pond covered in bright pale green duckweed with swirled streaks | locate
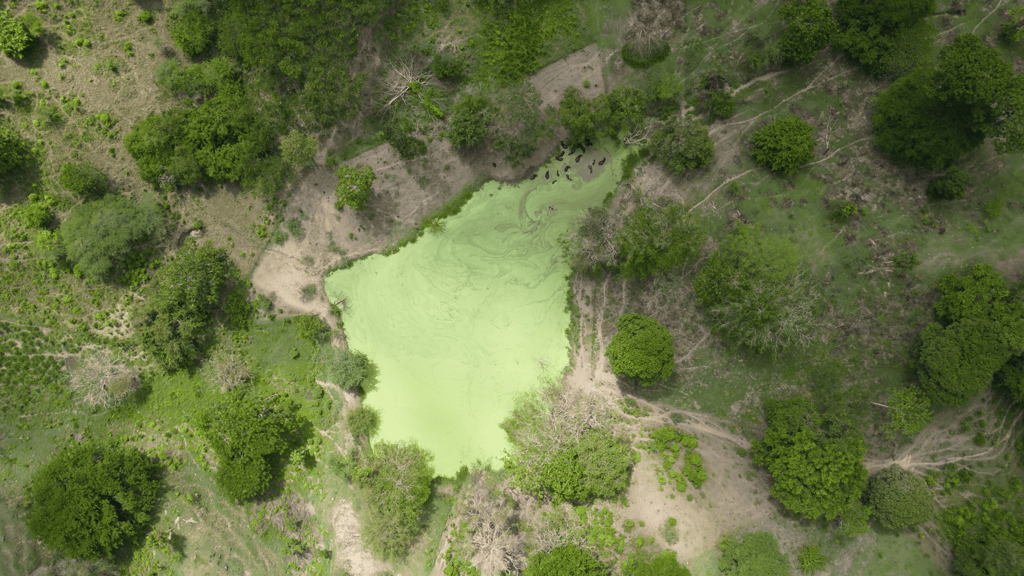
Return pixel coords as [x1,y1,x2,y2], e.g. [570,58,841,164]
[325,116,654,479]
